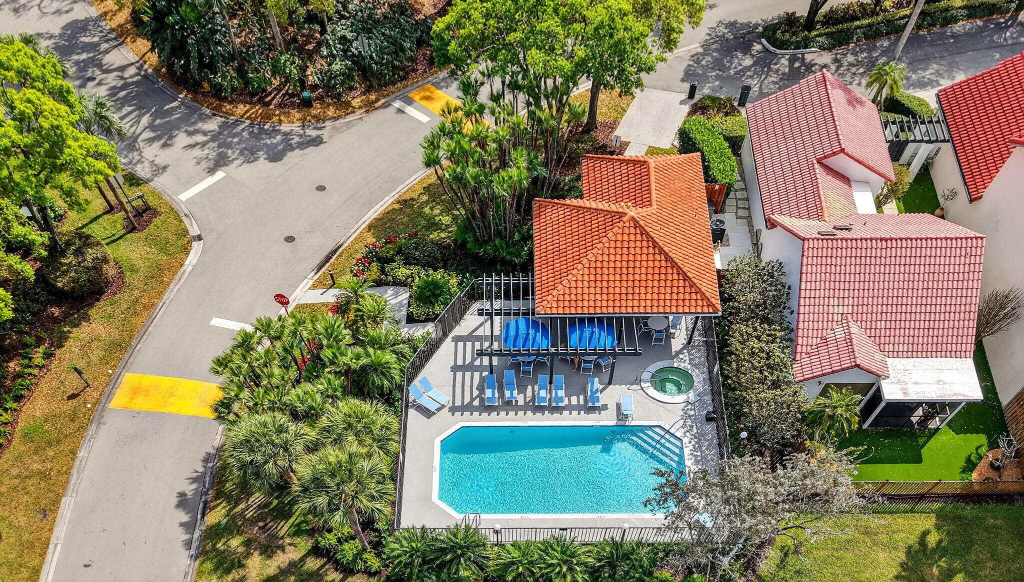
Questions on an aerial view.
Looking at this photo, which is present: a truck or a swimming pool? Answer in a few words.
swimming pool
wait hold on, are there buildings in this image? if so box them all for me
[531,150,723,347]
[740,71,988,431]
